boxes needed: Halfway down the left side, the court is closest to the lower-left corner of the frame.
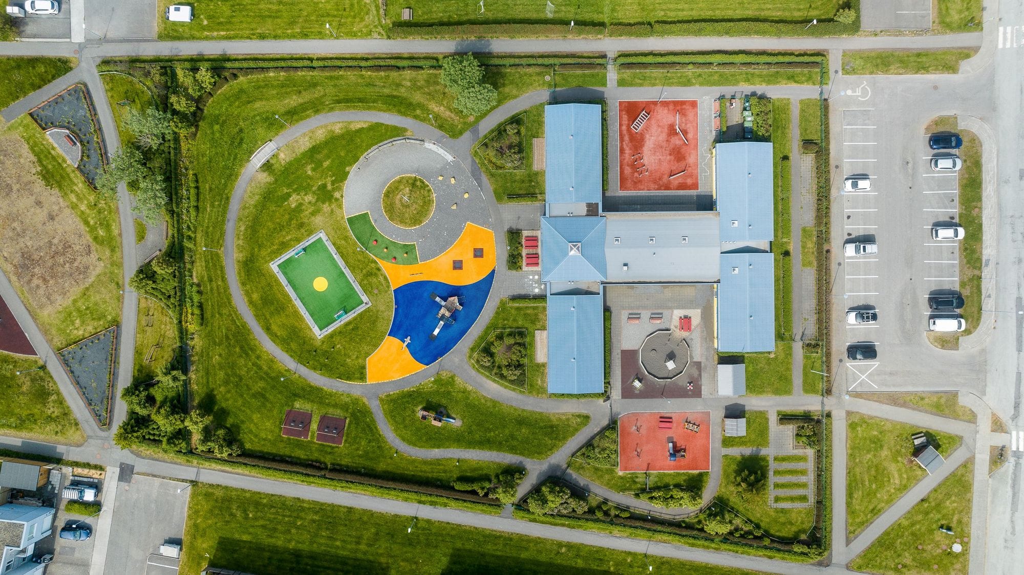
[0,296,37,356]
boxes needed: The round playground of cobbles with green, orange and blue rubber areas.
[336,136,497,383]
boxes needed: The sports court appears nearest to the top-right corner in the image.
[619,99,699,192]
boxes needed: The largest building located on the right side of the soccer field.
[541,103,775,394]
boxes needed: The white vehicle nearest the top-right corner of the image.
[930,156,961,171]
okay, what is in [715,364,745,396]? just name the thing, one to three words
shed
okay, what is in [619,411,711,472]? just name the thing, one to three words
sports court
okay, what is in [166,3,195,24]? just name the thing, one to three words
vehicle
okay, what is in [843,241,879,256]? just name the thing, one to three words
car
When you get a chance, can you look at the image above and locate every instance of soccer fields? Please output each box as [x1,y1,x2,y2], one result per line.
[270,230,370,338]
